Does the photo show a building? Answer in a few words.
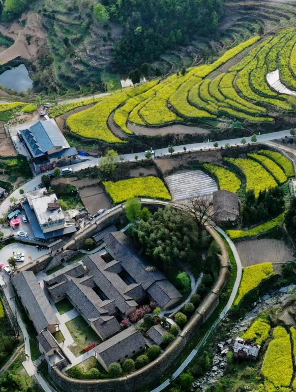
Yes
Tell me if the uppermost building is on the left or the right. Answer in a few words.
left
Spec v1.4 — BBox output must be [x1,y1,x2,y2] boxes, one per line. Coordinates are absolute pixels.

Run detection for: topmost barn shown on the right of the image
[212,184,242,223]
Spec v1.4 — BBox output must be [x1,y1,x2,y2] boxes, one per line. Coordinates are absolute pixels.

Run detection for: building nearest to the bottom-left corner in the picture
[24,324,68,371]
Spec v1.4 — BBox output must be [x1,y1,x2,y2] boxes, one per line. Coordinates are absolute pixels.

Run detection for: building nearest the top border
[1,124,79,173]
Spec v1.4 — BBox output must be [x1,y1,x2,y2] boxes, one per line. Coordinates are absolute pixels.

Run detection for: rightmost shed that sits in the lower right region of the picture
[235,337,260,364]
